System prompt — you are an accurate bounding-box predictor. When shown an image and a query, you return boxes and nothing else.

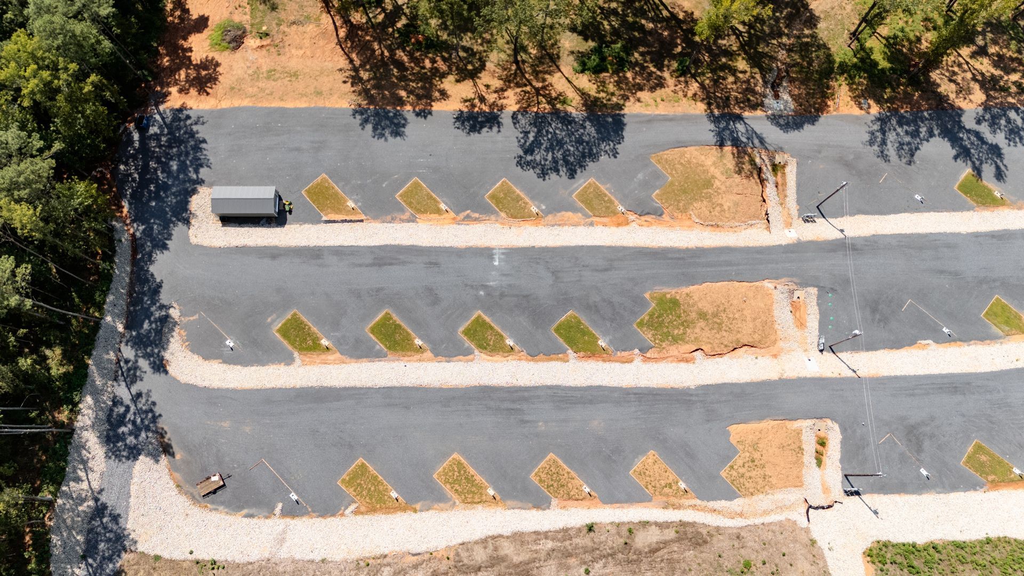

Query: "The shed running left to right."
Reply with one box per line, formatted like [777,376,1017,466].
[210,186,284,219]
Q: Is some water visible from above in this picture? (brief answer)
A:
No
